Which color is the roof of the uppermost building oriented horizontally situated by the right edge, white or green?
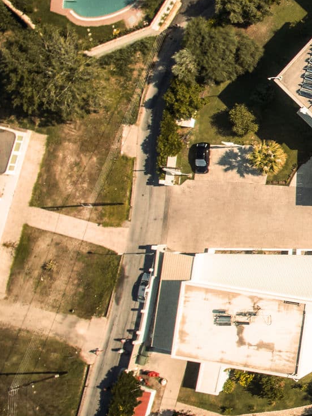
white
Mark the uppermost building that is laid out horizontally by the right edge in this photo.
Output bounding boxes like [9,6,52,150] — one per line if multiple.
[191,253,312,303]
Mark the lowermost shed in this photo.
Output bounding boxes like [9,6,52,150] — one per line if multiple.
[132,384,165,416]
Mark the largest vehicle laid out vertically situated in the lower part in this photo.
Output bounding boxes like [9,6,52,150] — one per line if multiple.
[136,271,152,302]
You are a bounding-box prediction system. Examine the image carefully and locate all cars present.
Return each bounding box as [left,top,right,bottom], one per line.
[194,142,212,174]
[136,271,152,302]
